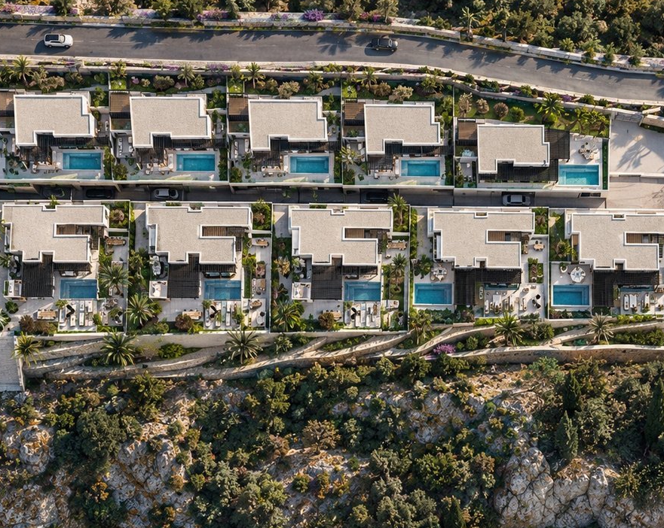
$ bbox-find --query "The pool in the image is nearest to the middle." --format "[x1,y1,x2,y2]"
[347,280,387,303]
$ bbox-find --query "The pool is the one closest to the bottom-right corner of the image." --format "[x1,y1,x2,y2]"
[551,283,592,308]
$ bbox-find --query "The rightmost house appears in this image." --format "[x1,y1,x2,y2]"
[567,212,664,313]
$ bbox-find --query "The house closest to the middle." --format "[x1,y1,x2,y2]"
[287,205,397,307]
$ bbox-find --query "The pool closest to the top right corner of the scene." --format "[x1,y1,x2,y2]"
[556,163,602,186]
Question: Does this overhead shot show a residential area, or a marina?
residential area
